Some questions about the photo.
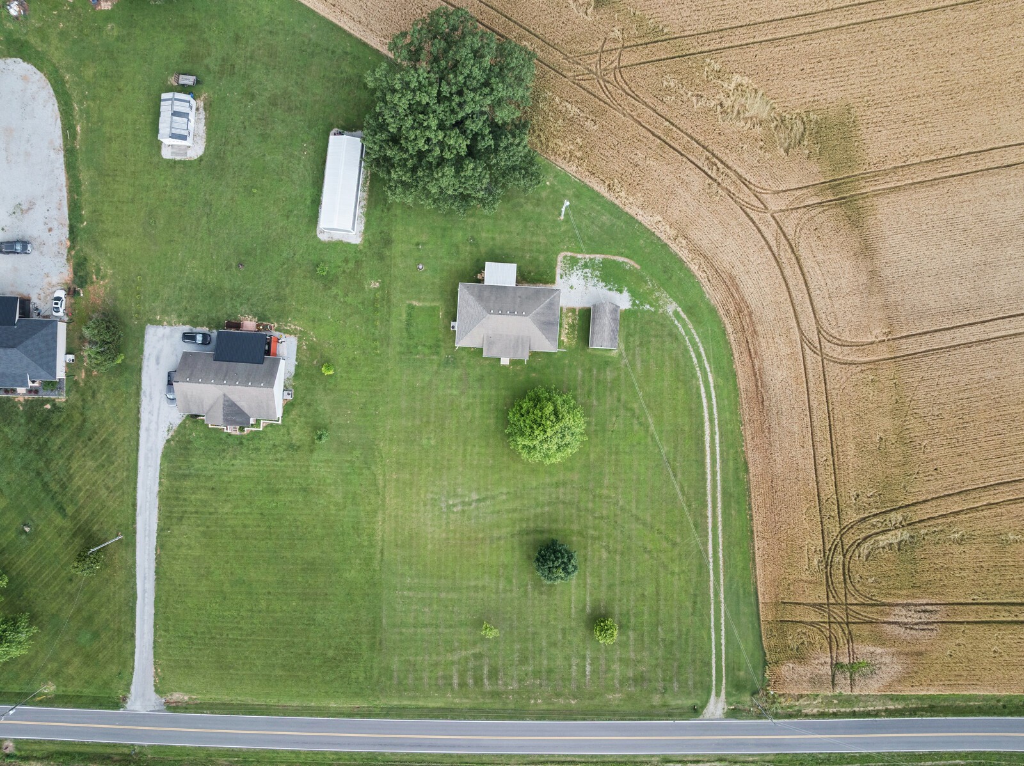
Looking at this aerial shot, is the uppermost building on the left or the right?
left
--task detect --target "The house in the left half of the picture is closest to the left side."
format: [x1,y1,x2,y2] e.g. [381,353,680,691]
[0,295,75,394]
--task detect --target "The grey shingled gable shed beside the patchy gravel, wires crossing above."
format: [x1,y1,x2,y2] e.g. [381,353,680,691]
[589,301,620,349]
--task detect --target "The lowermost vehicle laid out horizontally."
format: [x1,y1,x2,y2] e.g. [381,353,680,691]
[180,331,210,345]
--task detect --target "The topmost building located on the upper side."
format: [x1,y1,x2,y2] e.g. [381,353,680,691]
[158,92,196,146]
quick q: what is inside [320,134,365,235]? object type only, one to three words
barn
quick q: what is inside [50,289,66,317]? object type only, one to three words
car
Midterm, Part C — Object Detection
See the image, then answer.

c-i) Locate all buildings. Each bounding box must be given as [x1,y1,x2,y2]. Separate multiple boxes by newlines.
[589,301,620,349]
[158,92,196,146]
[0,295,75,394]
[455,262,566,364]
[173,330,285,433]
[320,134,365,235]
